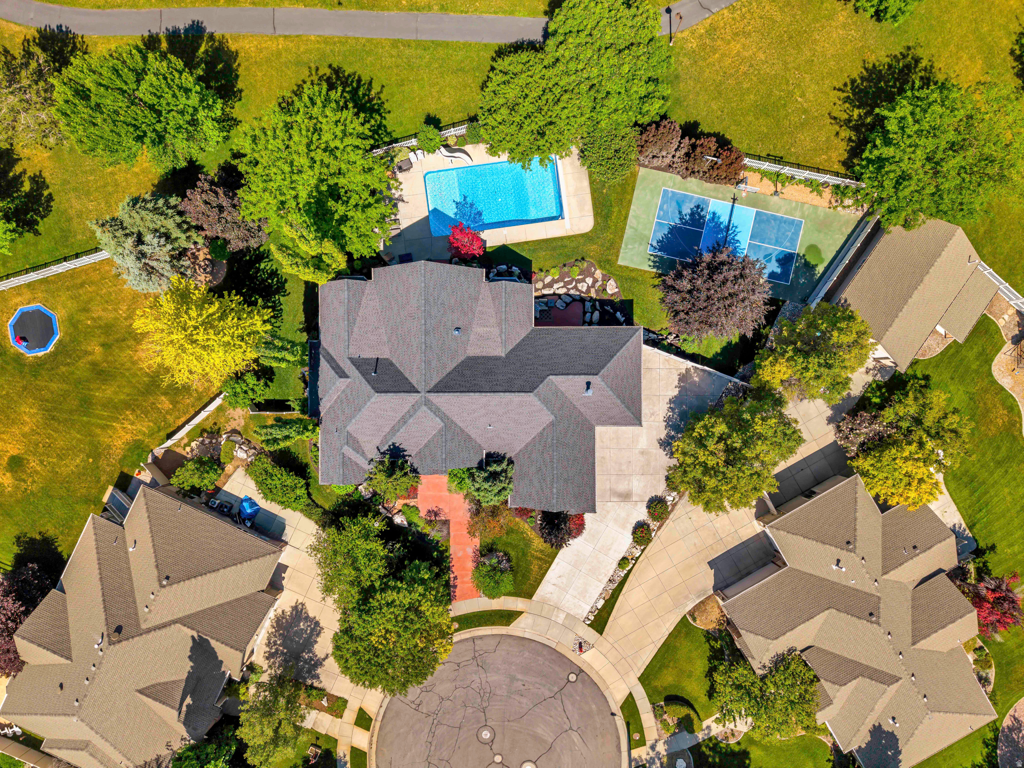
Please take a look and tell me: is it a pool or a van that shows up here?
pool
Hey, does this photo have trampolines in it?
Yes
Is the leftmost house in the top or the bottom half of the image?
bottom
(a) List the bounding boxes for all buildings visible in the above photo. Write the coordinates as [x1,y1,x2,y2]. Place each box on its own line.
[308,260,643,513]
[717,473,998,768]
[0,484,289,768]
[828,208,1005,374]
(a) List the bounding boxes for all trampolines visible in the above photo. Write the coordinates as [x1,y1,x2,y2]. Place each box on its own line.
[6,302,61,357]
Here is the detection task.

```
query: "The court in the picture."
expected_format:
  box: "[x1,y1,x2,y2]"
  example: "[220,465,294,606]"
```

[618,167,860,301]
